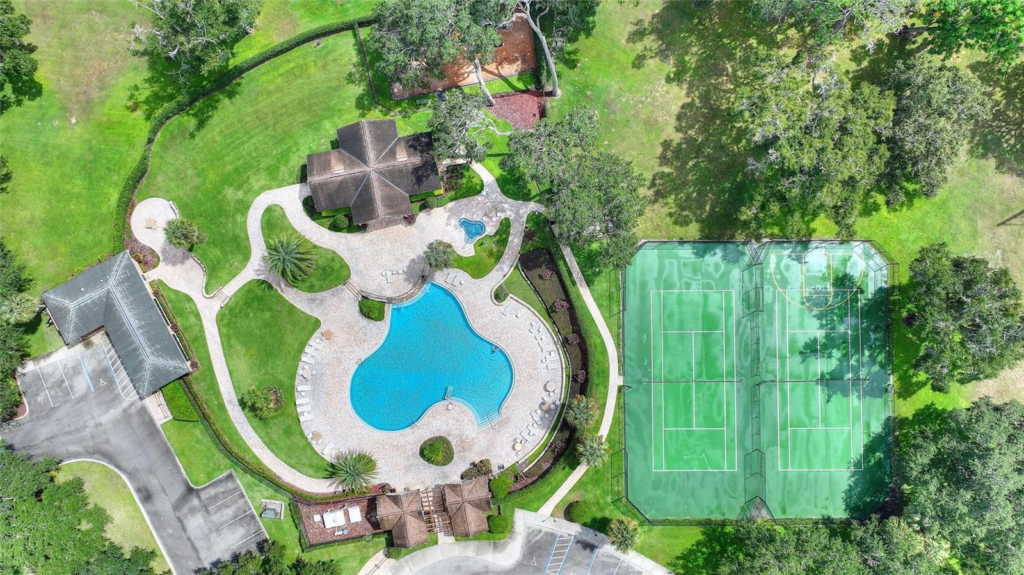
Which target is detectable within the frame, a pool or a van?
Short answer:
pool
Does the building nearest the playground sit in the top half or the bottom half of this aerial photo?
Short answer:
top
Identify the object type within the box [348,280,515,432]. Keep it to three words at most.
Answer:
swimming pool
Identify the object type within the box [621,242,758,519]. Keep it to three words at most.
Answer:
tennis court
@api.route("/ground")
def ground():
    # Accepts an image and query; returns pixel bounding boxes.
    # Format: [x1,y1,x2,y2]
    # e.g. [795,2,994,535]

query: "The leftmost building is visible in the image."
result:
[40,250,191,402]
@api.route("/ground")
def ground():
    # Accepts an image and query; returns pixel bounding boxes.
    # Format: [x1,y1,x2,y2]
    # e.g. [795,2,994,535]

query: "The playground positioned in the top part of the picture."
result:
[389,5,537,99]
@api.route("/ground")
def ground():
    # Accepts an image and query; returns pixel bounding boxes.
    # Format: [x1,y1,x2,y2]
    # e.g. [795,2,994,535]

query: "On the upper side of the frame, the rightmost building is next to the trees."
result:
[307,119,442,224]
